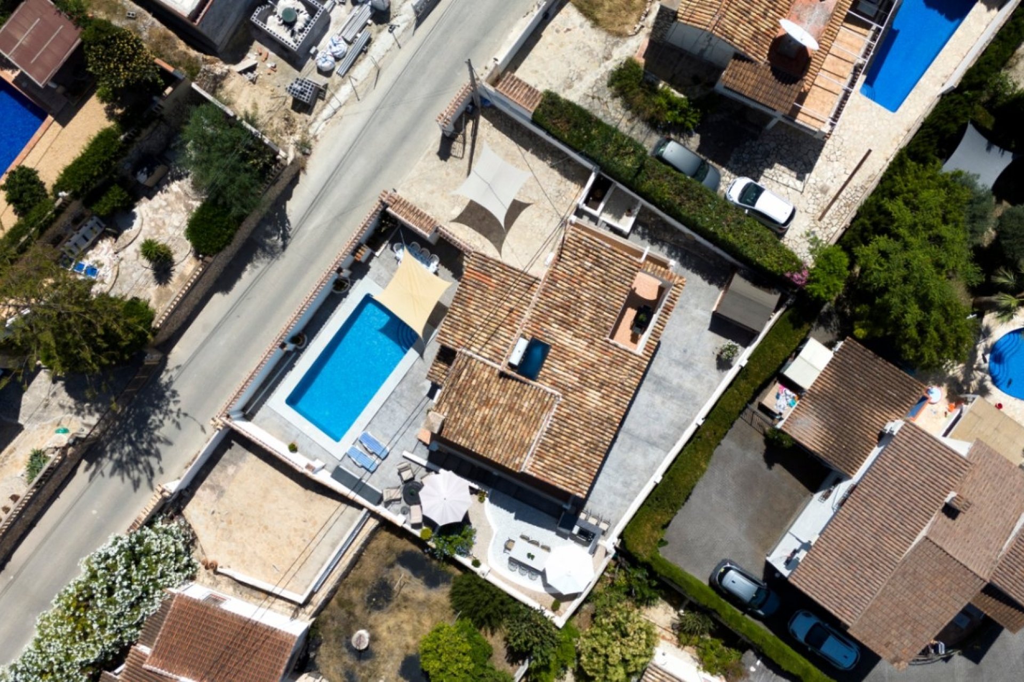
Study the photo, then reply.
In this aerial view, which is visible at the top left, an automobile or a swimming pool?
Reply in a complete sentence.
It is a swimming pool that can be seen at the top left.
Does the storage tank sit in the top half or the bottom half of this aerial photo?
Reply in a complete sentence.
You can find the storage tank in the top half.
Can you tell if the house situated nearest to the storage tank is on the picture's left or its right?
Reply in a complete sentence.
The house situated nearest to the storage tank appears in the left half of the scene.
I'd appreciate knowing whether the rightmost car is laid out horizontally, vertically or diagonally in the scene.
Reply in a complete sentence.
Seen from above, the rightmost car lies diagonally.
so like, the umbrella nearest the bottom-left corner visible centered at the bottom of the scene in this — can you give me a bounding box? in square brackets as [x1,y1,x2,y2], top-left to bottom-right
[418,472,473,526]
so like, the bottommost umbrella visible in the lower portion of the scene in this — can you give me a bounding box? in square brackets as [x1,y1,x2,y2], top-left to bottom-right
[544,544,594,594]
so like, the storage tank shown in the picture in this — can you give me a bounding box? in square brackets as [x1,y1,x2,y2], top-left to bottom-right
[249,0,336,63]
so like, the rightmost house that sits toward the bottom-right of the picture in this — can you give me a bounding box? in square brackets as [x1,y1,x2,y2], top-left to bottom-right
[758,337,1024,673]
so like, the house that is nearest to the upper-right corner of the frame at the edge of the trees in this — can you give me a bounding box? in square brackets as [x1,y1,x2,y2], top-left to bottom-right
[668,0,893,154]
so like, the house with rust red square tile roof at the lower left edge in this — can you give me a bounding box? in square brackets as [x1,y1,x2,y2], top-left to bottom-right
[100,578,322,682]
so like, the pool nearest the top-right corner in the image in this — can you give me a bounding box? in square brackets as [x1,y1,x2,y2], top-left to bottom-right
[860,0,978,112]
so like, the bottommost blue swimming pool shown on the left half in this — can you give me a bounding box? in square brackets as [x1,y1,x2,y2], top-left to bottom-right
[285,292,432,443]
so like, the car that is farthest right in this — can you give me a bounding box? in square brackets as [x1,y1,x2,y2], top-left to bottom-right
[784,605,862,670]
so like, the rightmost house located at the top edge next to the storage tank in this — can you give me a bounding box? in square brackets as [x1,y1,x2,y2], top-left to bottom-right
[160,0,269,53]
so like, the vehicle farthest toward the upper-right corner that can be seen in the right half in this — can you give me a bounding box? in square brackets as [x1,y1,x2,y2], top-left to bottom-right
[723,180,796,235]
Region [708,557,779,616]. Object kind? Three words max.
car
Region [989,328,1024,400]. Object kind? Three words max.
swimming pool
